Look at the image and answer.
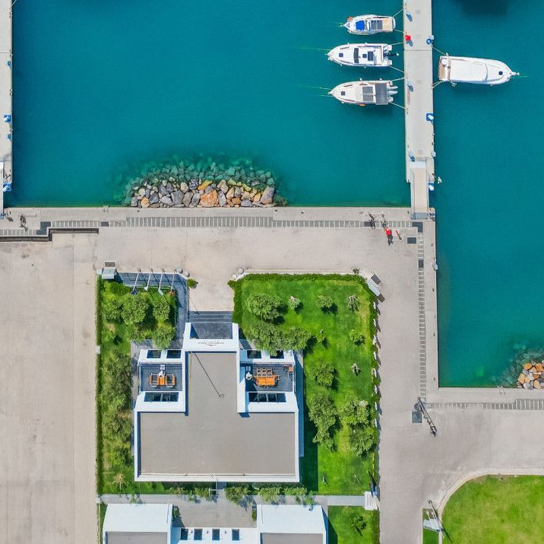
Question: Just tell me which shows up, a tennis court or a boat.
boat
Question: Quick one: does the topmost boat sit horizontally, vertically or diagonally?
horizontally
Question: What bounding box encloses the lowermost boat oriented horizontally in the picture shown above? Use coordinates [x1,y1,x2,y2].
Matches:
[272,74,401,109]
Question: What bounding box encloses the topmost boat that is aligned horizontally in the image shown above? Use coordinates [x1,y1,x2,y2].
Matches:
[290,12,403,36]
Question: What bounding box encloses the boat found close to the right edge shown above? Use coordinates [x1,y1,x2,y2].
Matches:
[434,49,542,87]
